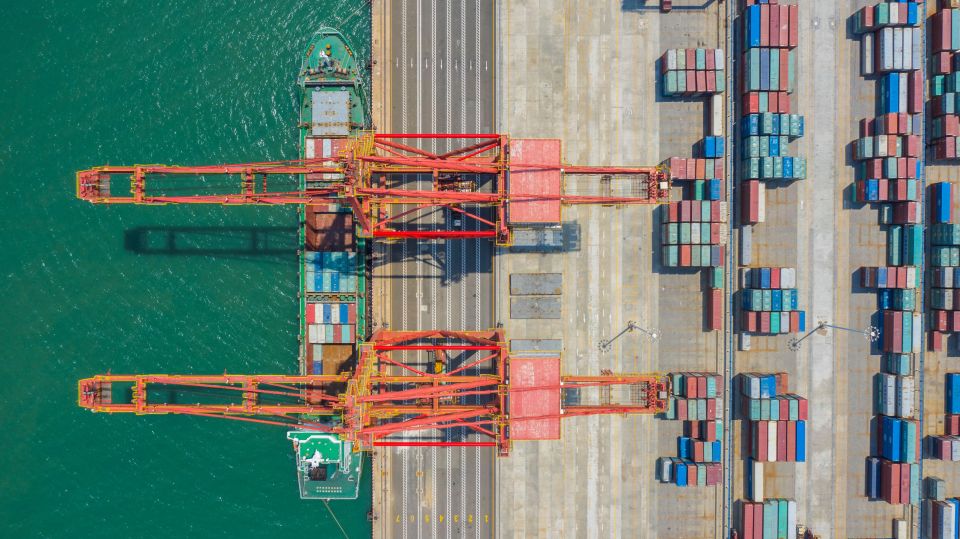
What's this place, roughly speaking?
port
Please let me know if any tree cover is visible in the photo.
No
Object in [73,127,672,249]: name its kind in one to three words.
container crane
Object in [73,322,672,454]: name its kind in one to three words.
container crane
